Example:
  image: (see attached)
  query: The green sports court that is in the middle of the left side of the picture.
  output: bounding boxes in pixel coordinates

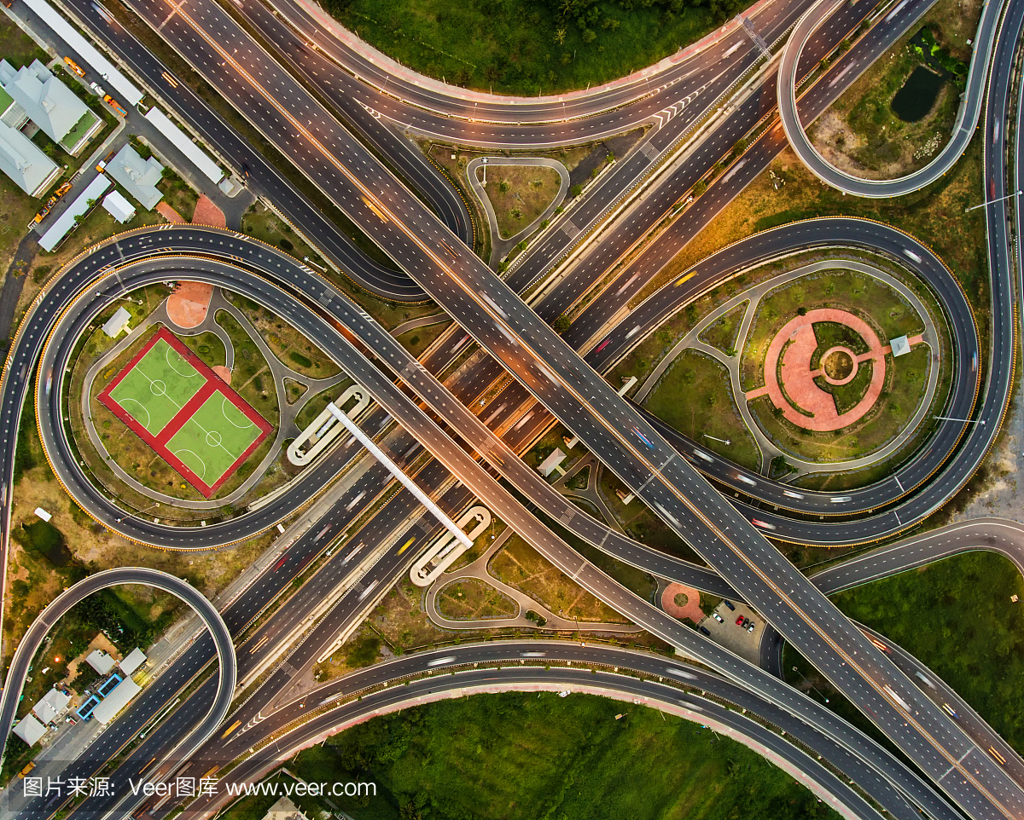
[96,328,273,498]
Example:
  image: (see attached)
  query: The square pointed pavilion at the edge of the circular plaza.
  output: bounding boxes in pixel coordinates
[886,335,910,357]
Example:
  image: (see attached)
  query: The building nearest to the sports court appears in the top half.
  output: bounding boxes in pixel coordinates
[102,307,134,337]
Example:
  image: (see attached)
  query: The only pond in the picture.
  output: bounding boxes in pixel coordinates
[892,65,949,122]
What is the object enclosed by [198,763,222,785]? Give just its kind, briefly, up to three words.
bus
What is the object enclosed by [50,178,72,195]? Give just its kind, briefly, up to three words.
vehicle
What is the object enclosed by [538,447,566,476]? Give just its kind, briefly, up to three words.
building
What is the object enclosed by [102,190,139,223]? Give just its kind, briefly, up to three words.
shed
